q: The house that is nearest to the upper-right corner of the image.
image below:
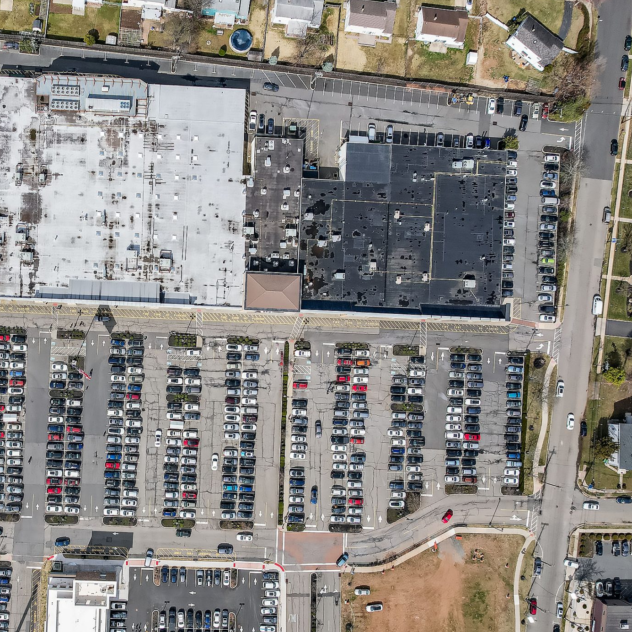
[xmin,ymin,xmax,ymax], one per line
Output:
[506,16,563,69]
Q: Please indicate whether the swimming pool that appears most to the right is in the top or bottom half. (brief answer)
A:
top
